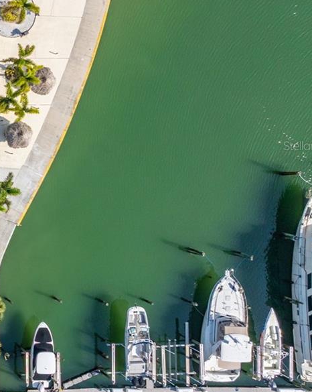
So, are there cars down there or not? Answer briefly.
No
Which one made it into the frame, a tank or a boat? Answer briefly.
boat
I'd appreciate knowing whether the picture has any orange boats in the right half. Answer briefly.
No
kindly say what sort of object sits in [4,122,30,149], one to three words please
umbrella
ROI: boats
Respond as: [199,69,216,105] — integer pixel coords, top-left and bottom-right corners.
[32,324,57,392]
[283,192,312,388]
[260,311,283,389]
[128,308,155,387]
[195,276,245,388]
